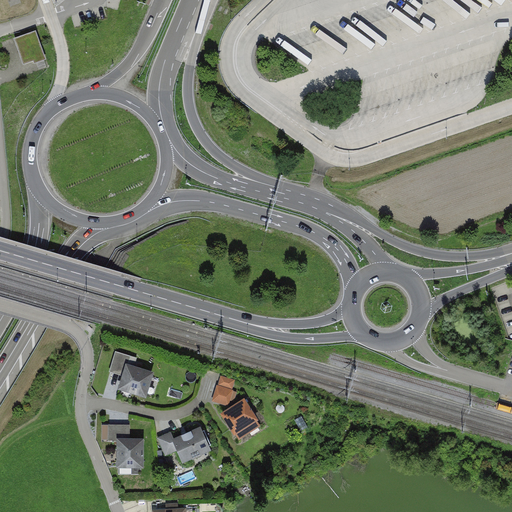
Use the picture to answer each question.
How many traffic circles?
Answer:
two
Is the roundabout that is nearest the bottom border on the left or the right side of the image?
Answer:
right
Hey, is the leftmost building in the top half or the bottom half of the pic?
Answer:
top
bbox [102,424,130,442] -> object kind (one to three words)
building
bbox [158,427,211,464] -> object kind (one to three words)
house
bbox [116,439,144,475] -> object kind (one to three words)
house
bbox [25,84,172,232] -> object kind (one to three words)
roundabout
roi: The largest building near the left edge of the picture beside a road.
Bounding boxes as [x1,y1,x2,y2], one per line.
[14,31,48,69]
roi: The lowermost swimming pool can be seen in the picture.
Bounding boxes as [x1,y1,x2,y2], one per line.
[177,470,196,486]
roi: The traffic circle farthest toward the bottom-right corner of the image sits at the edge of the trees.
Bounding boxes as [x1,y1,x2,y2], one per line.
[342,262,430,350]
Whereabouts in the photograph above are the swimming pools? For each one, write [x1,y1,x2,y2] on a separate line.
[177,470,196,486]
[168,388,183,400]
